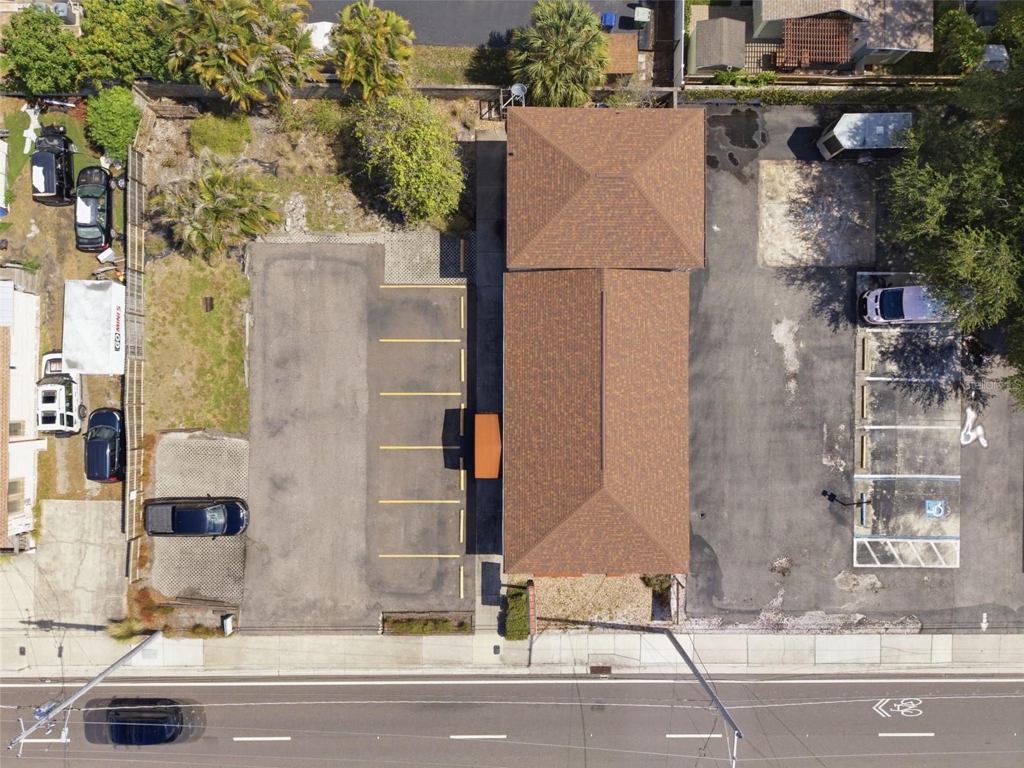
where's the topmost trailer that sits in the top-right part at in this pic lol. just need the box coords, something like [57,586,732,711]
[797,112,913,165]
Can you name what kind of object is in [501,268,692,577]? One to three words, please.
building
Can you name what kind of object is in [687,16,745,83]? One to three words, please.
shed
